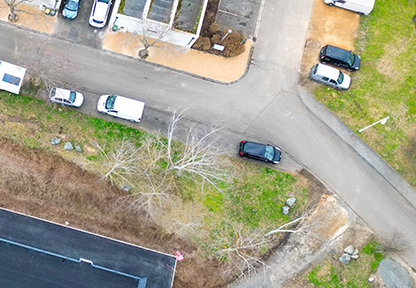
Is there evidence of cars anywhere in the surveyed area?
Yes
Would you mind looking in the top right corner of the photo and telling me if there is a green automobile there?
No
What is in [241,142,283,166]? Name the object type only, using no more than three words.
car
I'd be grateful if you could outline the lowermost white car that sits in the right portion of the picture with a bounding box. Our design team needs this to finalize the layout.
[312,64,353,90]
